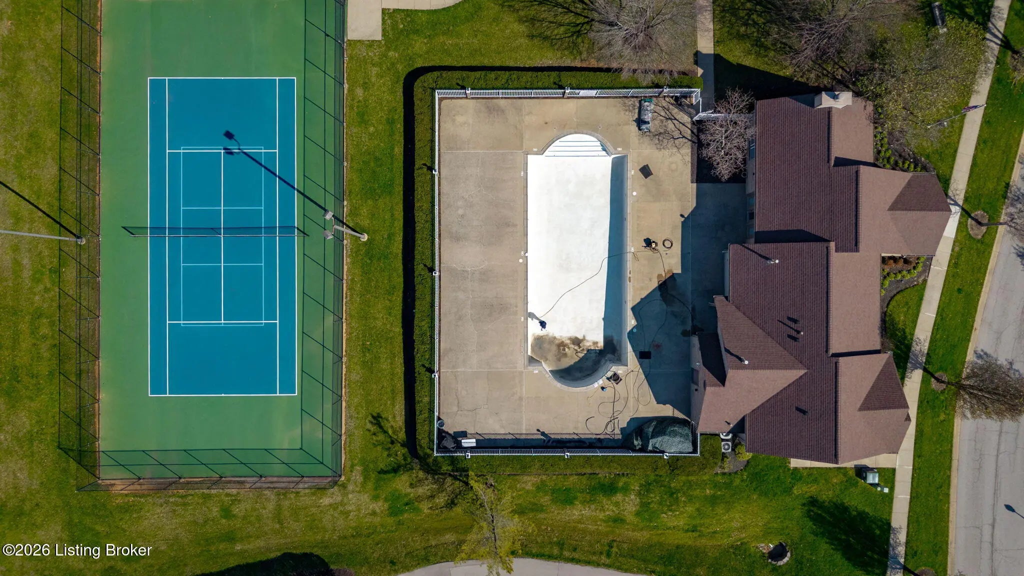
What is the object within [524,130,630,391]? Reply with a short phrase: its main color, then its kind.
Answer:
white swimming pool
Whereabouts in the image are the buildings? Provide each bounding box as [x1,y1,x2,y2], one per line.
[687,90,952,464]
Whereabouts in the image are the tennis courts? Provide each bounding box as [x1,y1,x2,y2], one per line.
[100,0,344,478]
